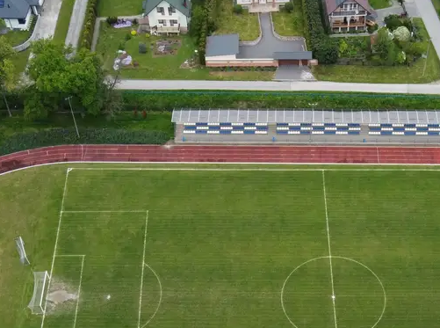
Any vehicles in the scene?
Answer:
No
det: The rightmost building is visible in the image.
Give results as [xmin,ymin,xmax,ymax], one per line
[326,0,375,40]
